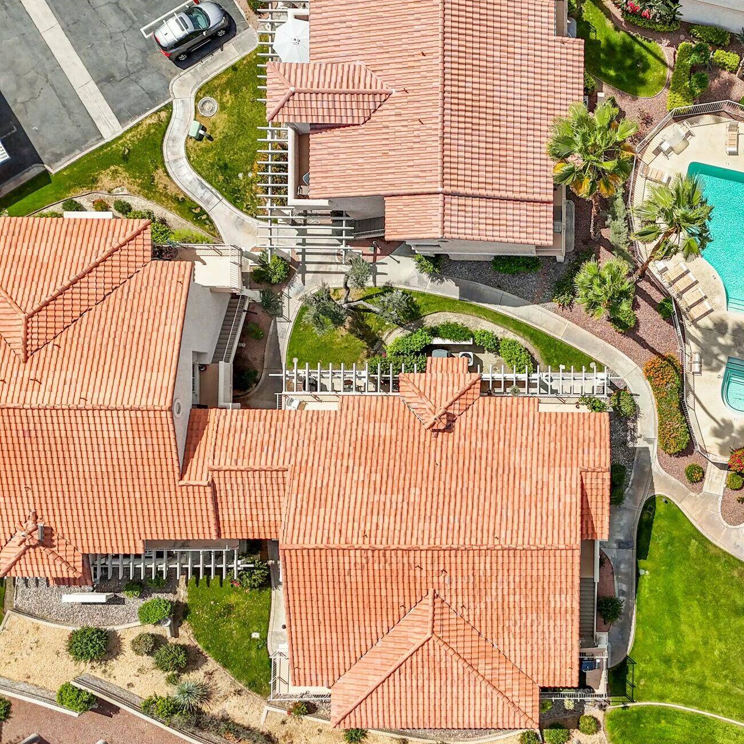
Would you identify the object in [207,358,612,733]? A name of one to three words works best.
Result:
house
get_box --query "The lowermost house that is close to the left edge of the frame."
[0,215,268,586]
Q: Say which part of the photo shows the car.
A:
top left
